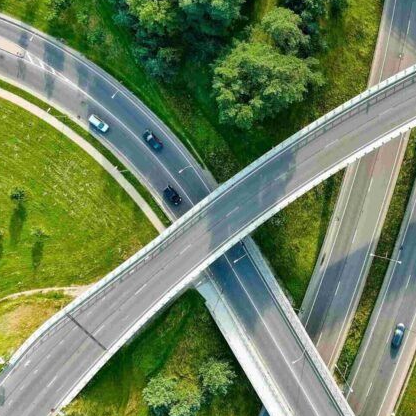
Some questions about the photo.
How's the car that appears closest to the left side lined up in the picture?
diagonally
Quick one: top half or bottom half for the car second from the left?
top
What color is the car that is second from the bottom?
black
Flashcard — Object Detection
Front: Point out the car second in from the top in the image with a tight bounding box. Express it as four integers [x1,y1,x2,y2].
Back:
[142,129,165,152]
